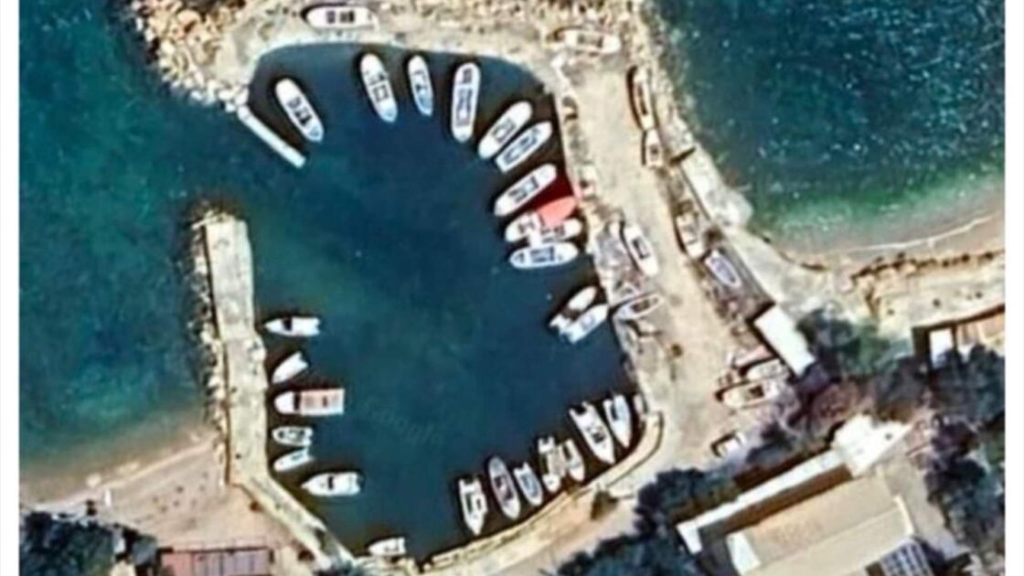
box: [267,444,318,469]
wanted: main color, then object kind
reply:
white boat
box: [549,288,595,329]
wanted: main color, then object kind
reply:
white boat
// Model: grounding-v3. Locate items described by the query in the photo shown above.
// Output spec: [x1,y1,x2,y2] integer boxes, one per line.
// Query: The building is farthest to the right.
[914,305,1024,368]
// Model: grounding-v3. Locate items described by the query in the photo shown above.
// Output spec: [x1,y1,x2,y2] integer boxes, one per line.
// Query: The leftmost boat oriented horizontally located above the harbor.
[306,4,377,28]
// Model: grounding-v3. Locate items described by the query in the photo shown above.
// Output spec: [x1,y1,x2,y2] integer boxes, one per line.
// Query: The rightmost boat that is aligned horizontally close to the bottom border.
[353,538,410,563]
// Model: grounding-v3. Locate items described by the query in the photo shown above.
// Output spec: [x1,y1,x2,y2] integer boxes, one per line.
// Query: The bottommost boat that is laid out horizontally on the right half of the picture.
[722,379,781,408]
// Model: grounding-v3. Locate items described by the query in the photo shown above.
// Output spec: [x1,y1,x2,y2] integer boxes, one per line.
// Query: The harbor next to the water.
[237,35,662,576]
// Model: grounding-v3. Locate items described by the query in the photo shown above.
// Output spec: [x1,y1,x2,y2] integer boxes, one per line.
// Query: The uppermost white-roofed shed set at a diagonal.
[756,305,819,376]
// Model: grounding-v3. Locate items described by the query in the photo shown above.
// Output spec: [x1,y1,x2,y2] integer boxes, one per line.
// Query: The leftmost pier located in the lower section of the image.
[206,222,358,576]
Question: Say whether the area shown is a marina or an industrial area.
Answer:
marina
